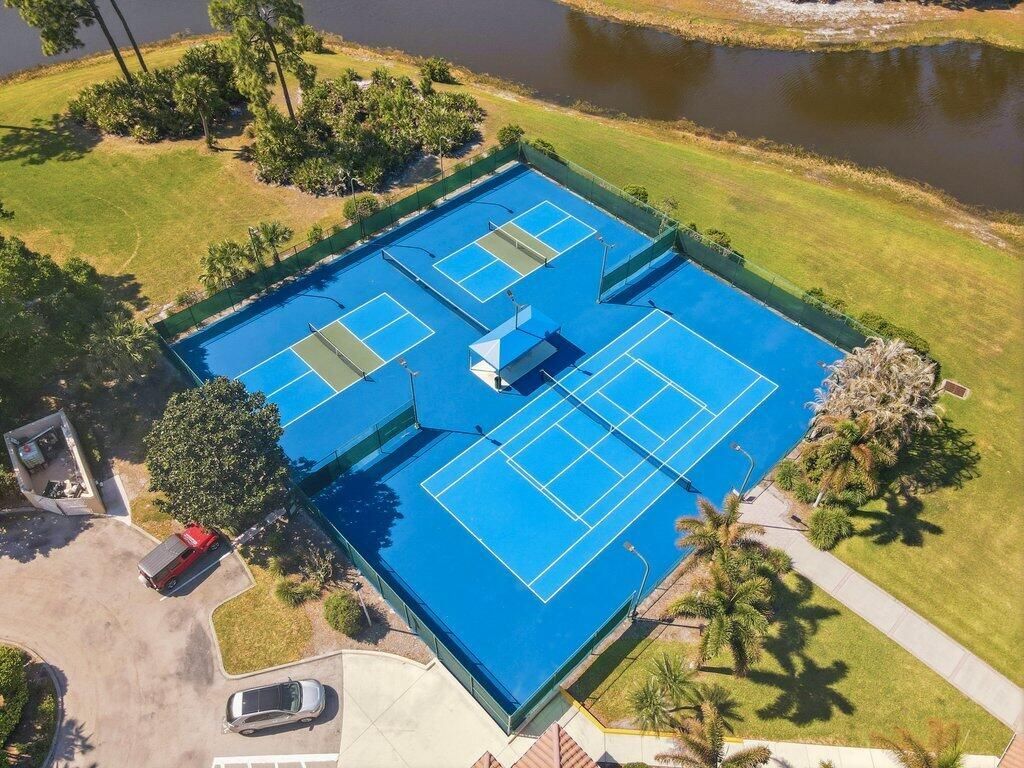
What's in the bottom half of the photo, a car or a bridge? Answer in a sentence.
You can see a car in the bottom half of the photo.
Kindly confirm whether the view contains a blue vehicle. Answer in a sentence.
No, no blue vehicle can be seen from above.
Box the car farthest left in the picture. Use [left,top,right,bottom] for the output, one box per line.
[139,520,226,591]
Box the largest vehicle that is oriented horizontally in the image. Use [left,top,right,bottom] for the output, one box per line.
[226,679,326,736]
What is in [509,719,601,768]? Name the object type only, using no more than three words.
building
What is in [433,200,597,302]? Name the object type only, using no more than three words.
sports court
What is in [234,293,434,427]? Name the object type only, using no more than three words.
sports court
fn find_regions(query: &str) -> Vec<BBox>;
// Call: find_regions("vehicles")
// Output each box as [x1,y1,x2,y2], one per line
[139,520,226,591]
[226,679,326,736]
